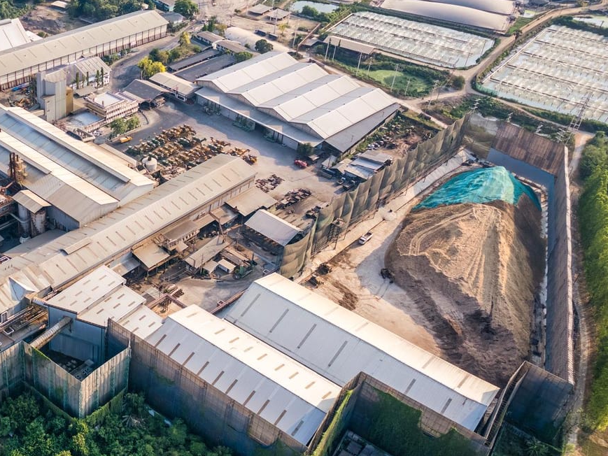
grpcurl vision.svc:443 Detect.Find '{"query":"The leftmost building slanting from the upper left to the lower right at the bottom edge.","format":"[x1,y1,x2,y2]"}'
[141,301,352,454]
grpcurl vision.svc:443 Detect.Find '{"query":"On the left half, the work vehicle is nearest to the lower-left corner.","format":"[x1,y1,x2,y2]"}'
[232,265,254,279]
